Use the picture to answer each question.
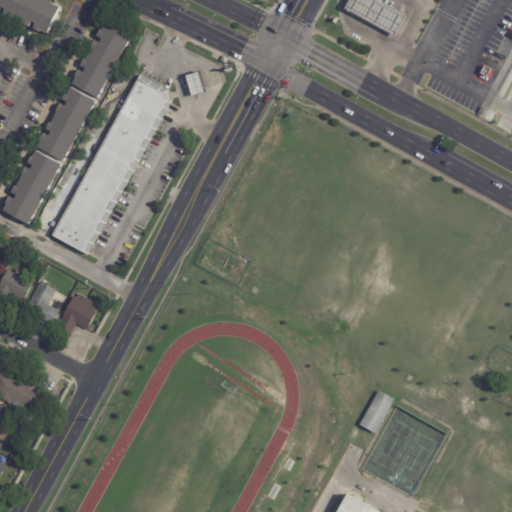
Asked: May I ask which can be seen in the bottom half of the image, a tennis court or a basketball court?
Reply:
tennis court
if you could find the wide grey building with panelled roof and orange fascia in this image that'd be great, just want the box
[344,0,408,36]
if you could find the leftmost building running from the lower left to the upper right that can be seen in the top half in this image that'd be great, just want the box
[4,152,62,224]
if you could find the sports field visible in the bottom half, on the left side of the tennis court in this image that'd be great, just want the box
[95,334,286,512]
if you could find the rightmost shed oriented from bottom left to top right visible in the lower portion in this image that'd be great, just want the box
[360,392,394,432]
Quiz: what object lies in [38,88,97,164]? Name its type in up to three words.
building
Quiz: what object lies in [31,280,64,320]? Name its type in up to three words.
house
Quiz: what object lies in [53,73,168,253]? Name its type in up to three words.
building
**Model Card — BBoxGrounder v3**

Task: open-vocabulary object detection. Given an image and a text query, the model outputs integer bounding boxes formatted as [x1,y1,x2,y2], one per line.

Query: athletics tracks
[79,320,300,512]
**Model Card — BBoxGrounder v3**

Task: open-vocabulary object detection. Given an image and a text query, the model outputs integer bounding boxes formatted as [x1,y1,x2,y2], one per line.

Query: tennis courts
[362,406,446,494]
